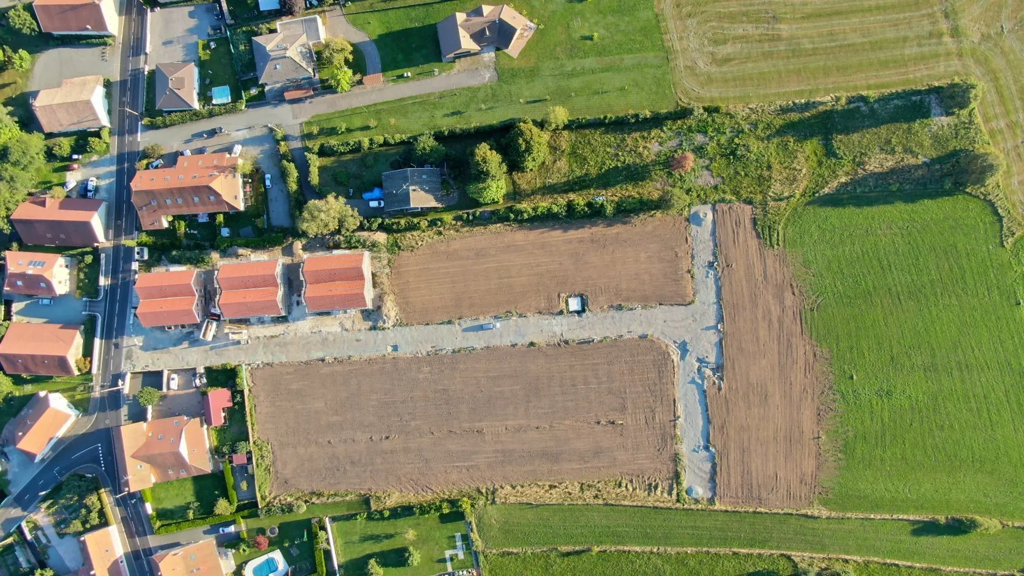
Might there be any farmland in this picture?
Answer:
Yes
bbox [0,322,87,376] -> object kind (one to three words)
house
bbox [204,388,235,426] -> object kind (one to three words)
shed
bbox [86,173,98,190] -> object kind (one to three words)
vehicle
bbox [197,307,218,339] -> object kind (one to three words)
truck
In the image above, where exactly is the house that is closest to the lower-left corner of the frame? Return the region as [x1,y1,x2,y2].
[78,524,130,576]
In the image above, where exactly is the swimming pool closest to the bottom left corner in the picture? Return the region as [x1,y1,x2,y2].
[245,549,290,576]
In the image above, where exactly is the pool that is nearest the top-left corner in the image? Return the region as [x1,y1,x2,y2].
[212,86,232,105]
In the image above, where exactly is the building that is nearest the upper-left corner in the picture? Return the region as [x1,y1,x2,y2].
[33,0,117,36]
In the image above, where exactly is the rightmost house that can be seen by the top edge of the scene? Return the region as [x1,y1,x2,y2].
[436,5,528,61]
